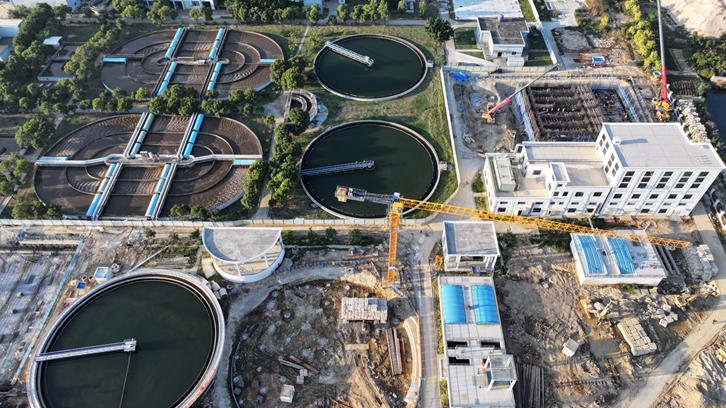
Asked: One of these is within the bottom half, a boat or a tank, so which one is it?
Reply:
tank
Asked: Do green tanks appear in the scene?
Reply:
No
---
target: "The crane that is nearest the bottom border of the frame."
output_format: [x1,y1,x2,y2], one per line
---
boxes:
[335,184,696,290]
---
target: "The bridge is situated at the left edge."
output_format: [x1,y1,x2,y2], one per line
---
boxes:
[28,341,131,366]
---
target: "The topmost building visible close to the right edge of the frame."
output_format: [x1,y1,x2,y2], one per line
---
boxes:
[481,124,726,219]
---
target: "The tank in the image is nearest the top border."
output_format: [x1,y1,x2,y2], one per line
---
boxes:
[313,33,432,104]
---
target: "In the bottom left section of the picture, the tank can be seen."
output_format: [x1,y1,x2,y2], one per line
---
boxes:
[26,268,226,408]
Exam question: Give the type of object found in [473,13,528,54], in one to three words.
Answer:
building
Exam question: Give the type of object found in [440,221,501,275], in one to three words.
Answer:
building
